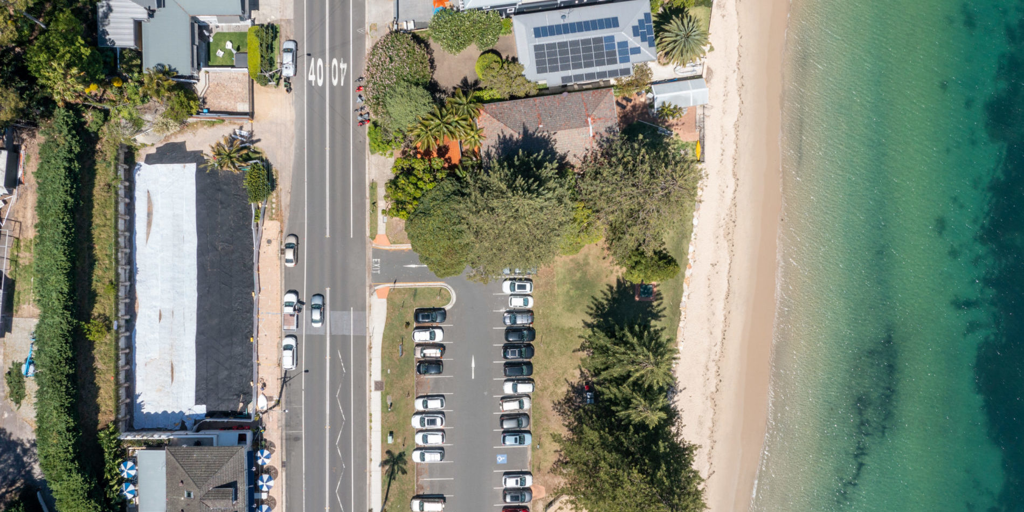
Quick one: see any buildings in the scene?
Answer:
Yes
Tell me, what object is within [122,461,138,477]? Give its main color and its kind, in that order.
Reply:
white umbrella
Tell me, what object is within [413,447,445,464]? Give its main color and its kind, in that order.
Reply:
white car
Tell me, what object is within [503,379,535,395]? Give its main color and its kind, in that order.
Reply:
white car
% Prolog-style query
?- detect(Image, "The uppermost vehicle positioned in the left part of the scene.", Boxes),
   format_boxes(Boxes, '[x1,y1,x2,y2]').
[280,40,297,77]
